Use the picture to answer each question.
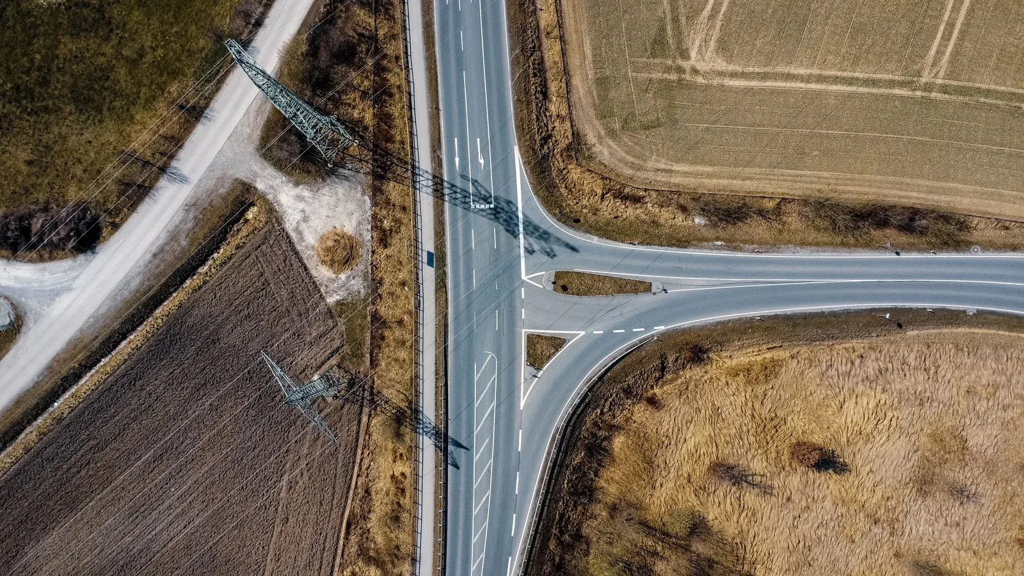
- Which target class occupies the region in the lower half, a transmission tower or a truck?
transmission tower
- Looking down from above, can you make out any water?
No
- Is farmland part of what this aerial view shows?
Yes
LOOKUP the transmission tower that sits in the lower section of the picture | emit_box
[259,352,351,443]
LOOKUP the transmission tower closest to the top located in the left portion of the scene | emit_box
[219,38,359,168]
